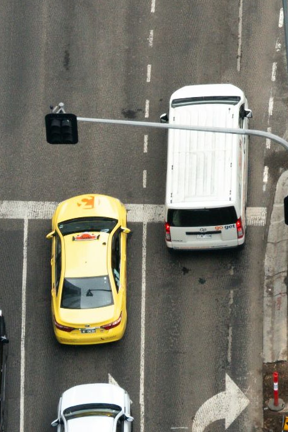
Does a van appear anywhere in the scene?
Yes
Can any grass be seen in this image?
No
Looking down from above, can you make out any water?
No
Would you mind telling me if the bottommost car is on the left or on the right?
left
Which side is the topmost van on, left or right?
right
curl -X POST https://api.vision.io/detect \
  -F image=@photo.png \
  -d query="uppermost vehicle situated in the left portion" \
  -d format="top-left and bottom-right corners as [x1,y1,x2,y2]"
[46,191,140,345]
